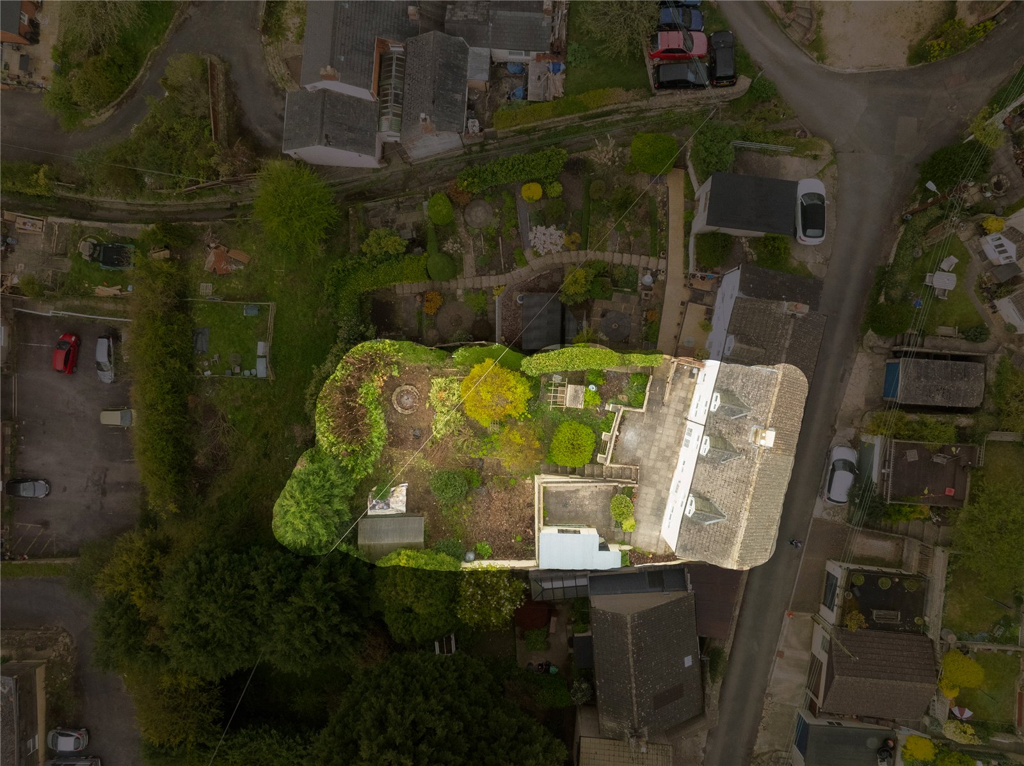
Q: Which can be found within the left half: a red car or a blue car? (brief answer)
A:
red car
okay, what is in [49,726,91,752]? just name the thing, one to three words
car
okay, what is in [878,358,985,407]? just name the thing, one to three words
building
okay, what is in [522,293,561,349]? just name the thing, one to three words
shed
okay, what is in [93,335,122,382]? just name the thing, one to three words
car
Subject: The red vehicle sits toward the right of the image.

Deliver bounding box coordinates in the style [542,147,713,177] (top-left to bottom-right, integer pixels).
[649,32,707,63]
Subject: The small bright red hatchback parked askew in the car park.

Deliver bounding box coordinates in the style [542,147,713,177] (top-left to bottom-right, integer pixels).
[51,332,85,376]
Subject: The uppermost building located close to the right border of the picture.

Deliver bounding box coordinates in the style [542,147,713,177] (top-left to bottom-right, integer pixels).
[961,215,1024,276]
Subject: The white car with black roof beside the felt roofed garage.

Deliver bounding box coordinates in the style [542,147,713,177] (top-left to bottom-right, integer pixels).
[795,180,827,245]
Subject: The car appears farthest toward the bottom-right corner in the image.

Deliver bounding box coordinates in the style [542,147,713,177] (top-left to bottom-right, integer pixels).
[820,445,858,504]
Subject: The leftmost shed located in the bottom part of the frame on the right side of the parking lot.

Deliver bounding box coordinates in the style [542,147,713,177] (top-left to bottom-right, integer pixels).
[356,510,428,562]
